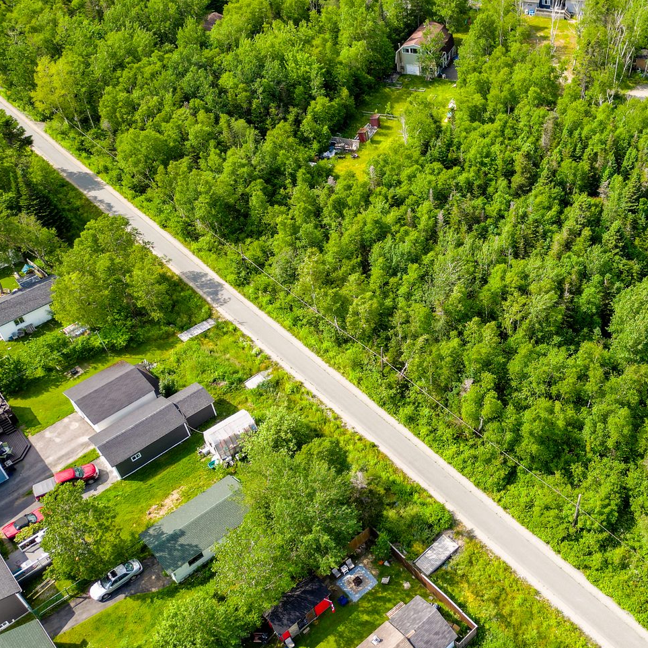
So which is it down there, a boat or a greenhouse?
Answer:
greenhouse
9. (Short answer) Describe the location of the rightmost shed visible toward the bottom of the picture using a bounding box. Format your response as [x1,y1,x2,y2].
[391,594,458,648]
